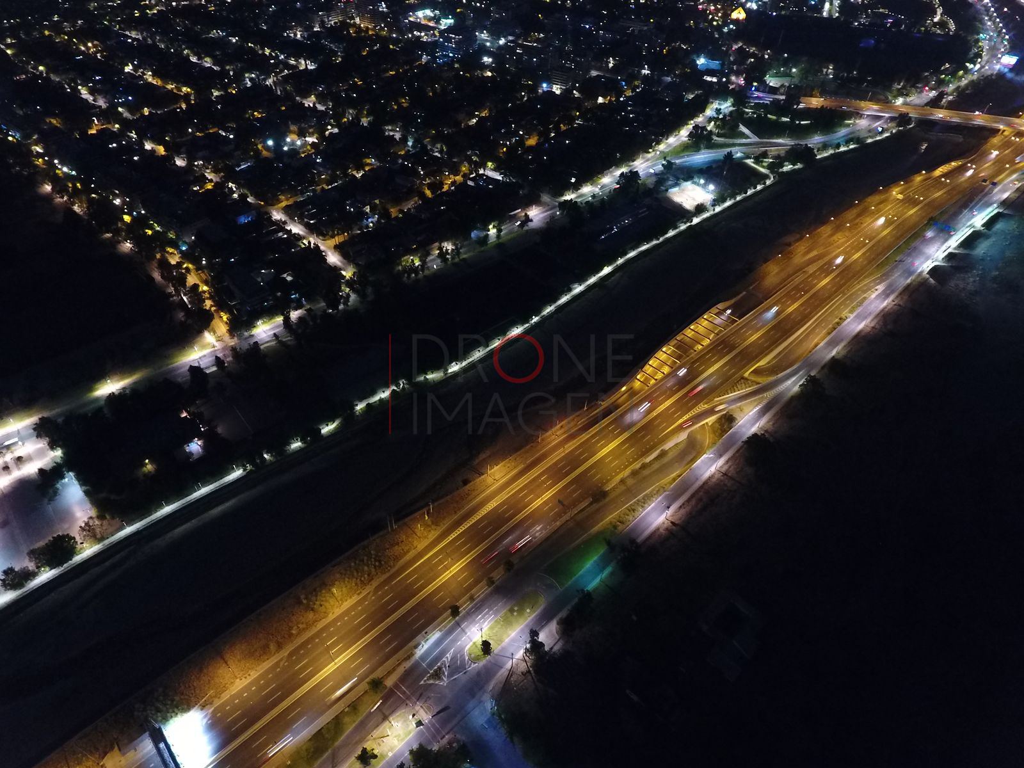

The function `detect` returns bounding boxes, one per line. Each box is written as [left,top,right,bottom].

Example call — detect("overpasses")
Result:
[733,91,1024,138]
